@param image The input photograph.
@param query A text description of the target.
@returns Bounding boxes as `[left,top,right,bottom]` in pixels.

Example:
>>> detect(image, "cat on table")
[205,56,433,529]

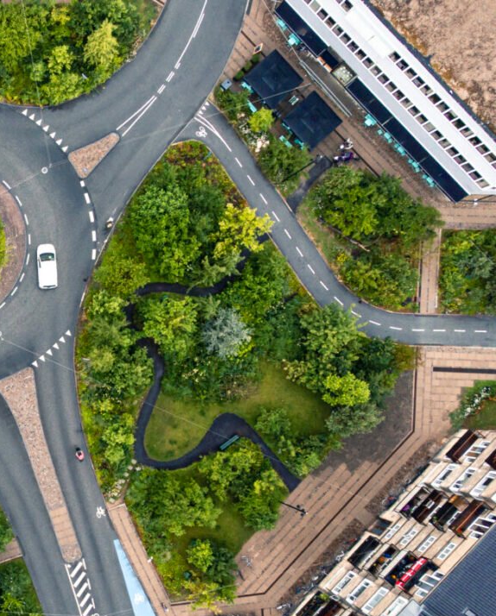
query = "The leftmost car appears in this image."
[36,245,59,289]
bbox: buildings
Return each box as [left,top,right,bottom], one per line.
[257,0,496,201]
[284,427,496,616]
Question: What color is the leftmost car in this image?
white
